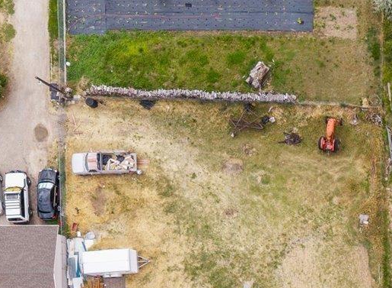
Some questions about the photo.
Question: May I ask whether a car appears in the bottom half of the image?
Yes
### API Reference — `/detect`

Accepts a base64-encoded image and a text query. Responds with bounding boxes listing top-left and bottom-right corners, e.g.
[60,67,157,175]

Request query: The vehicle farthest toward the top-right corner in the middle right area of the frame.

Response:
[319,116,342,155]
